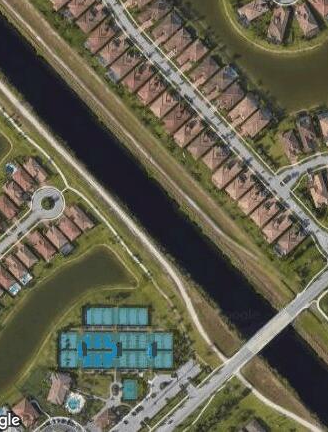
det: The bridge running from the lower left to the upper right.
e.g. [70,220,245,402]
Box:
[244,307,296,359]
